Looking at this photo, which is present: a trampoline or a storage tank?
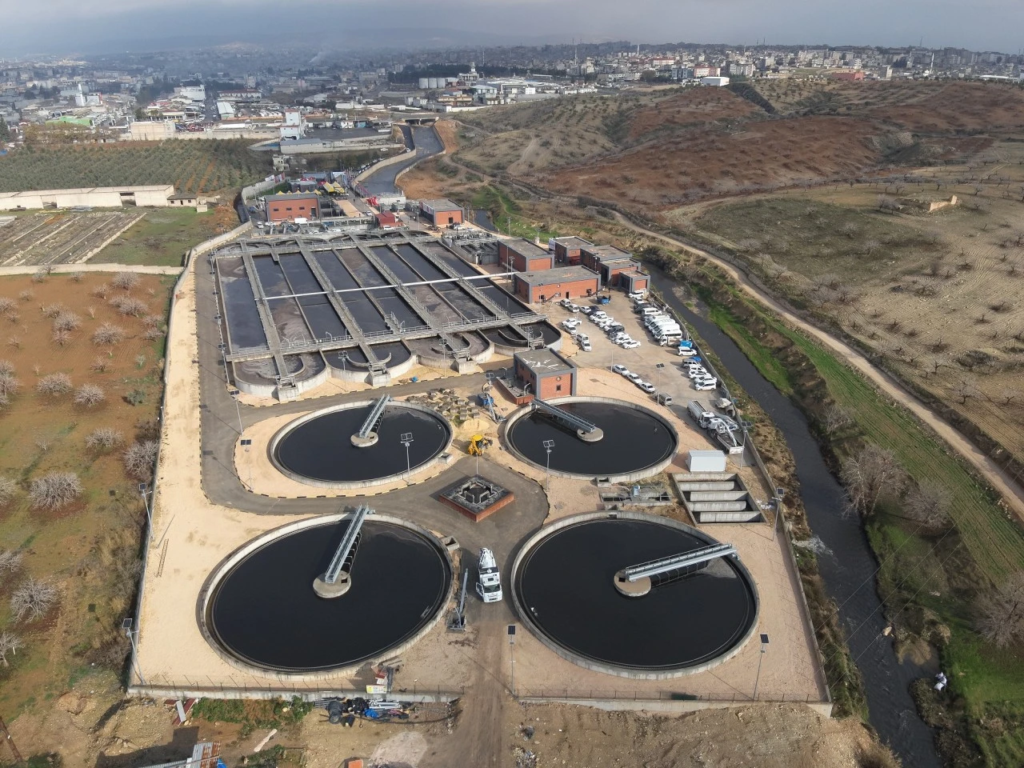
storage tank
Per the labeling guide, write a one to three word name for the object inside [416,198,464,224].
building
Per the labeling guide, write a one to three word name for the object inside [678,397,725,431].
truck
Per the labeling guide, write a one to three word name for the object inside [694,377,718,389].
vehicle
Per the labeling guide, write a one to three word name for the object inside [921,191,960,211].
house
